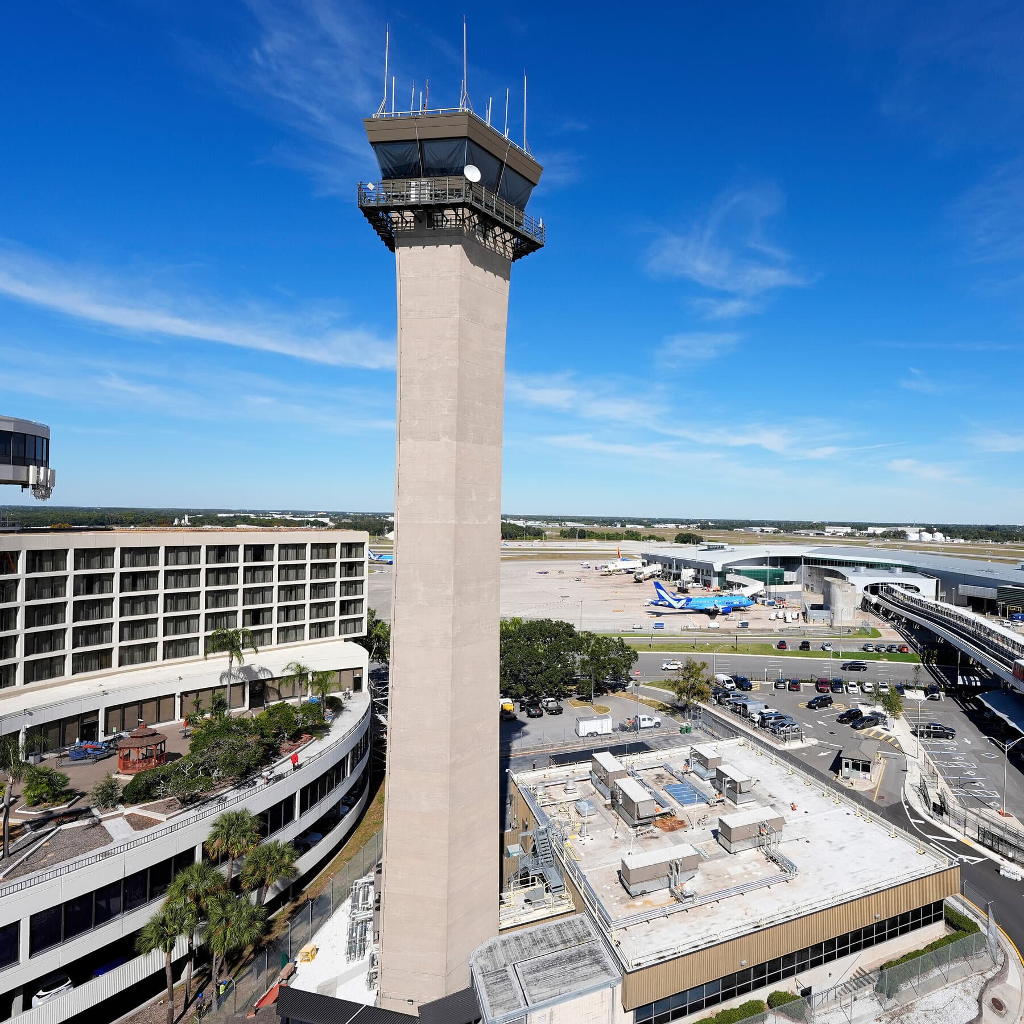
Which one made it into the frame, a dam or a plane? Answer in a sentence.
Looking from above, you can make out a plane.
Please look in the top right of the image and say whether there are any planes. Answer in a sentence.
No, no plane appears in the top right of the image.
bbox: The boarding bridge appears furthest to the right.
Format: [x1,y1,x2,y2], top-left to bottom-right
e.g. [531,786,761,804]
[741,577,767,601]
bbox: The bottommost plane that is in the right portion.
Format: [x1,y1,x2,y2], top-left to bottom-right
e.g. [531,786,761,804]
[645,579,756,614]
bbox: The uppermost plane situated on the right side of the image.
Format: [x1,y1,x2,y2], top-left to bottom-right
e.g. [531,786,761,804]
[617,548,641,560]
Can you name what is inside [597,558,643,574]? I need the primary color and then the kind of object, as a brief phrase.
white jet bridge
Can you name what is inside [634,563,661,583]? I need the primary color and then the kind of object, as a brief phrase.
white jet bridge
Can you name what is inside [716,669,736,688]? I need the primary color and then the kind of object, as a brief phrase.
white vehicle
